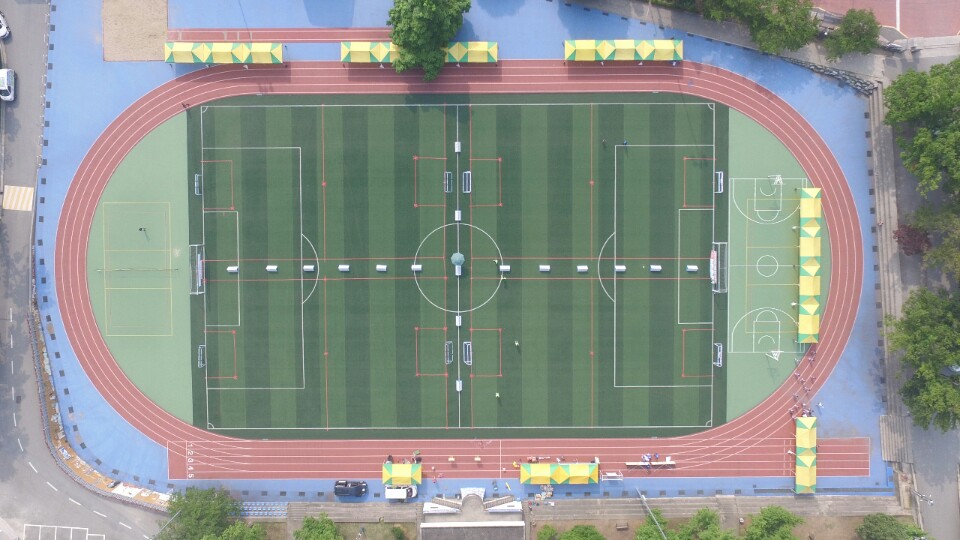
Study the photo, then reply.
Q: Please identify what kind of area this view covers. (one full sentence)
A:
It's a sports ground.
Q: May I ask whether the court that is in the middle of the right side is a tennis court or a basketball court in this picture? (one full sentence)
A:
The court that is in the middle of the right side can be classified as a basketball court.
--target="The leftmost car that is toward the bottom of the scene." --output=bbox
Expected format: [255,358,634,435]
[335,479,367,496]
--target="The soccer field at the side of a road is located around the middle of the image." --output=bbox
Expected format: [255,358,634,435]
[188,92,728,441]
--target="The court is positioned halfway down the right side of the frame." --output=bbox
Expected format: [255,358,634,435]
[727,107,832,424]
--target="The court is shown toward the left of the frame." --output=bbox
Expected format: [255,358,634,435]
[87,111,193,428]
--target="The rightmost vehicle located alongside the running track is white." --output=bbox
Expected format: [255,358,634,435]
[385,484,418,498]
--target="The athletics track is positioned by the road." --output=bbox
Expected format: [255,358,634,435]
[54,60,870,480]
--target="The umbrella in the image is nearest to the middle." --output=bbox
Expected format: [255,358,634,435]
[451,255,464,269]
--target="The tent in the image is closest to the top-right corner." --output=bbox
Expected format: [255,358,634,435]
[792,188,821,228]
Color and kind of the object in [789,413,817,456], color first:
yellow tent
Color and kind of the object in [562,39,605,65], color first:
yellow tent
